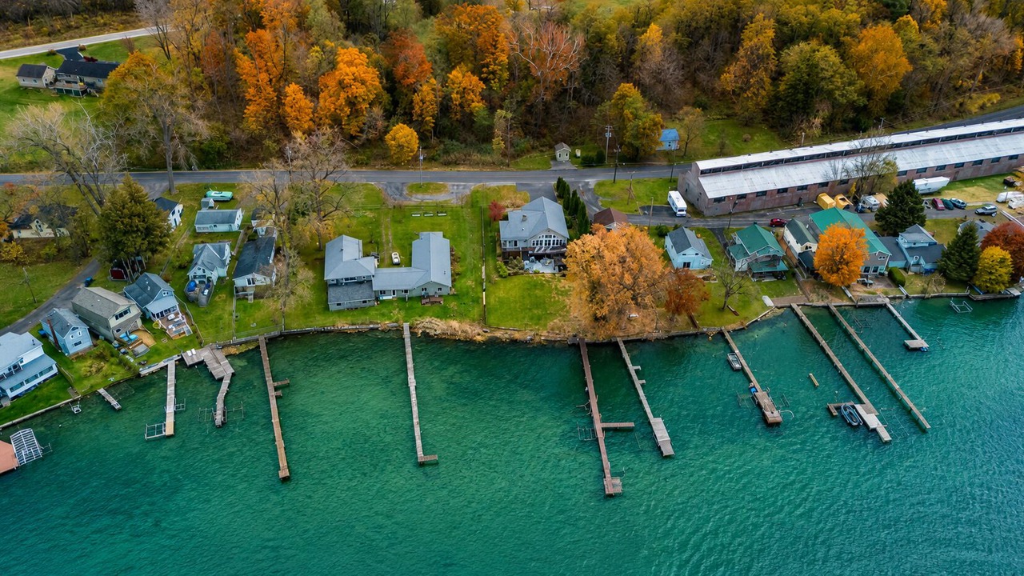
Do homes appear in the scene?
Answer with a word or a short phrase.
Yes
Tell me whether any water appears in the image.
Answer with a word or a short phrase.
Yes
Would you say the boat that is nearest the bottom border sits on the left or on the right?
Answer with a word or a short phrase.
right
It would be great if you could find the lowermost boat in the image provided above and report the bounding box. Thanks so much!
[840,408,866,428]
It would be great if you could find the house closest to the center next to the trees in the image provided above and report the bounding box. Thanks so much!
[493,196,569,274]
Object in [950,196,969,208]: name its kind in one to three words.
vehicle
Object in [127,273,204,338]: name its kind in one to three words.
house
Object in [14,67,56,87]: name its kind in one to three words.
building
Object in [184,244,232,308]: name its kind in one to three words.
house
